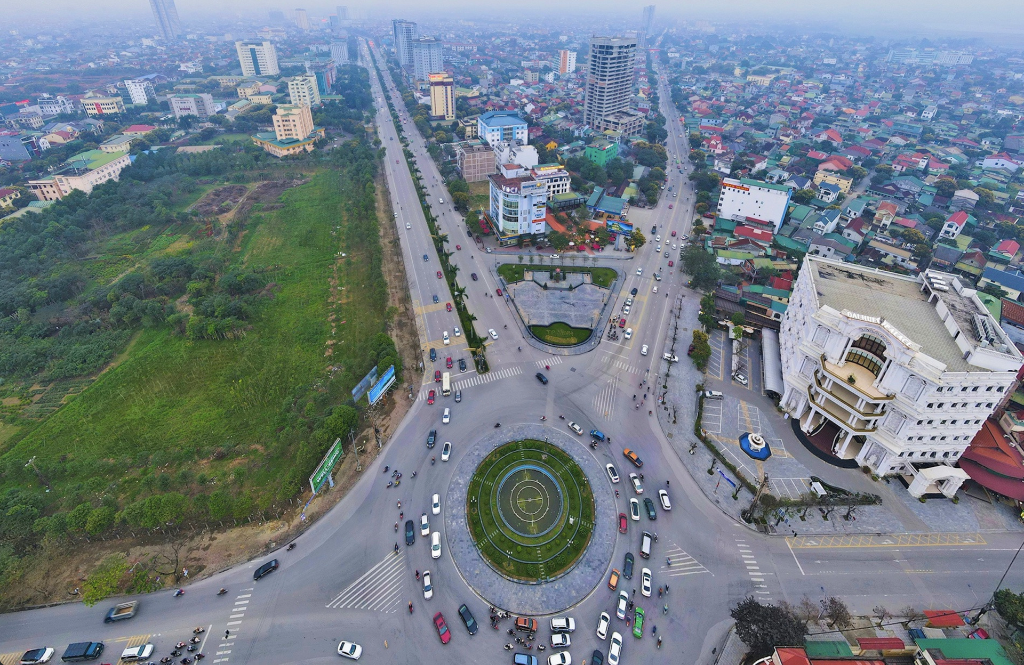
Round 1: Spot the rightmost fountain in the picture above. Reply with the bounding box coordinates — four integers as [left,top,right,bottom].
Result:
[738,435,773,460]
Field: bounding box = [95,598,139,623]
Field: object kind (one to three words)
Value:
truck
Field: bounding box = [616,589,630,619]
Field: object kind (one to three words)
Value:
car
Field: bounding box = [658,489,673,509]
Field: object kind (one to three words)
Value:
car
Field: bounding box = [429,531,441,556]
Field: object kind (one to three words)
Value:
vehicle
